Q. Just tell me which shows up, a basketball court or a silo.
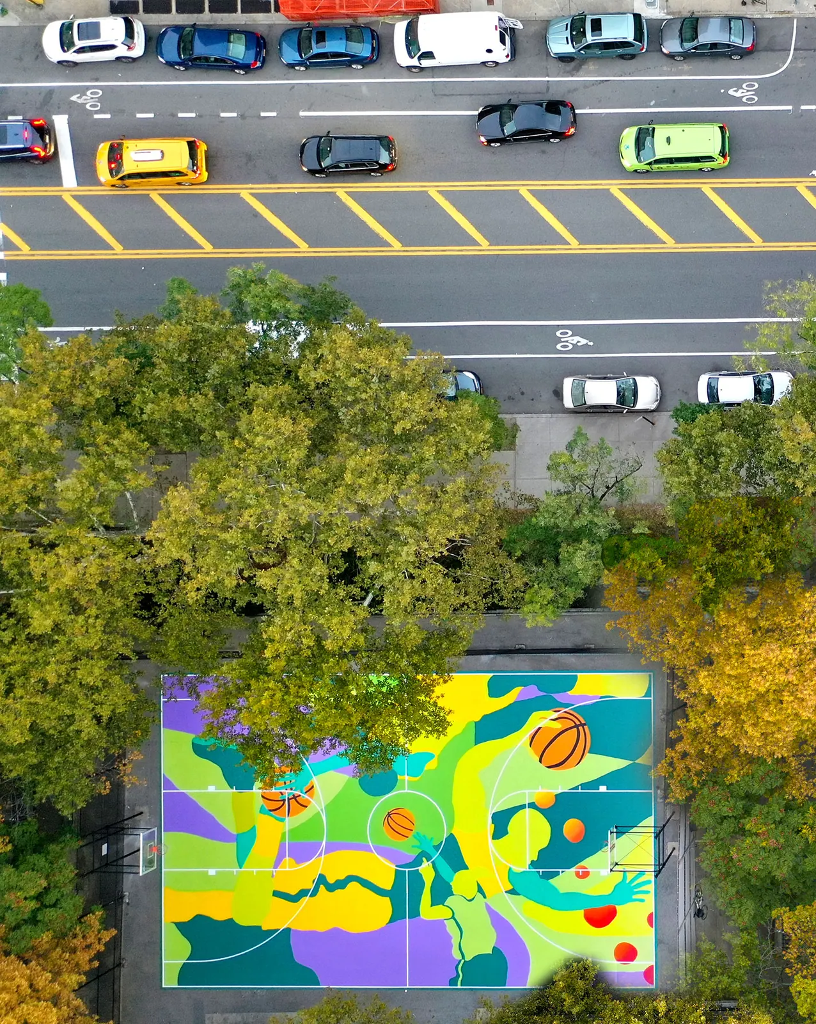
basketball court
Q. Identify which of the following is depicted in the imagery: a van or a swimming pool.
van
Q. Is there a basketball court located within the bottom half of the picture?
Yes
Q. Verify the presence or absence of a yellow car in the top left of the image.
Yes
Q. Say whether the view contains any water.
No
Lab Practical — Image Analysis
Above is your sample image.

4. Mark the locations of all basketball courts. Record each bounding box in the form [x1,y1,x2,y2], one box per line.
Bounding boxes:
[160,670,658,993]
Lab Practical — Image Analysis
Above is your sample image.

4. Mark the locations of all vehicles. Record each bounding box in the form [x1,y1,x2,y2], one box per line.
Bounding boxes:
[41,13,148,68]
[95,134,210,189]
[619,119,730,173]
[476,95,578,148]
[279,18,381,71]
[561,368,662,414]
[300,127,399,178]
[546,8,648,63]
[661,10,757,62]
[0,117,56,165]
[157,19,268,74]
[697,364,794,410]
[394,10,533,72]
